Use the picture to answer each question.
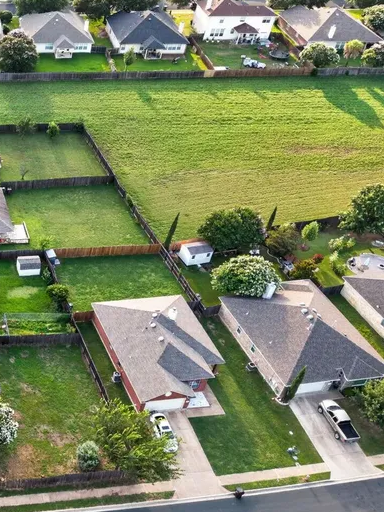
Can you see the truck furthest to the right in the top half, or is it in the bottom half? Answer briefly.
bottom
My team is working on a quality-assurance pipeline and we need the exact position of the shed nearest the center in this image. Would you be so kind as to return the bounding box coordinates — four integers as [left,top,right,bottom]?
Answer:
[178,240,215,266]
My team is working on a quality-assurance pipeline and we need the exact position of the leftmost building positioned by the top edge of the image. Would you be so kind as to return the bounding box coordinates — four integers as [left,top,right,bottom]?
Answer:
[25,10,93,58]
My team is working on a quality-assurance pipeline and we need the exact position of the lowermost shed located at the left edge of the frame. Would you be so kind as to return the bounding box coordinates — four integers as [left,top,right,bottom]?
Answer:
[16,254,43,277]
